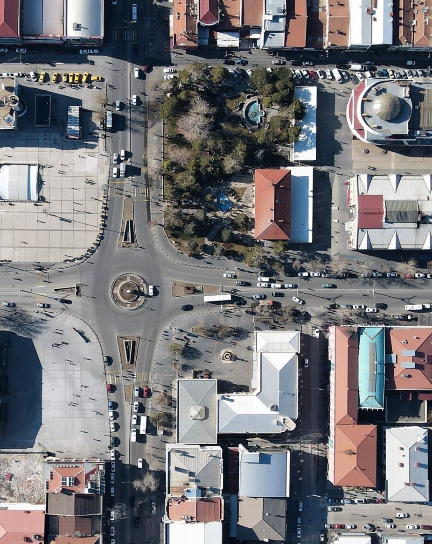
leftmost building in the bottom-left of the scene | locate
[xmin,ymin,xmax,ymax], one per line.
[0,501,46,544]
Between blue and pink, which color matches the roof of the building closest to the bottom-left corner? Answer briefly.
pink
